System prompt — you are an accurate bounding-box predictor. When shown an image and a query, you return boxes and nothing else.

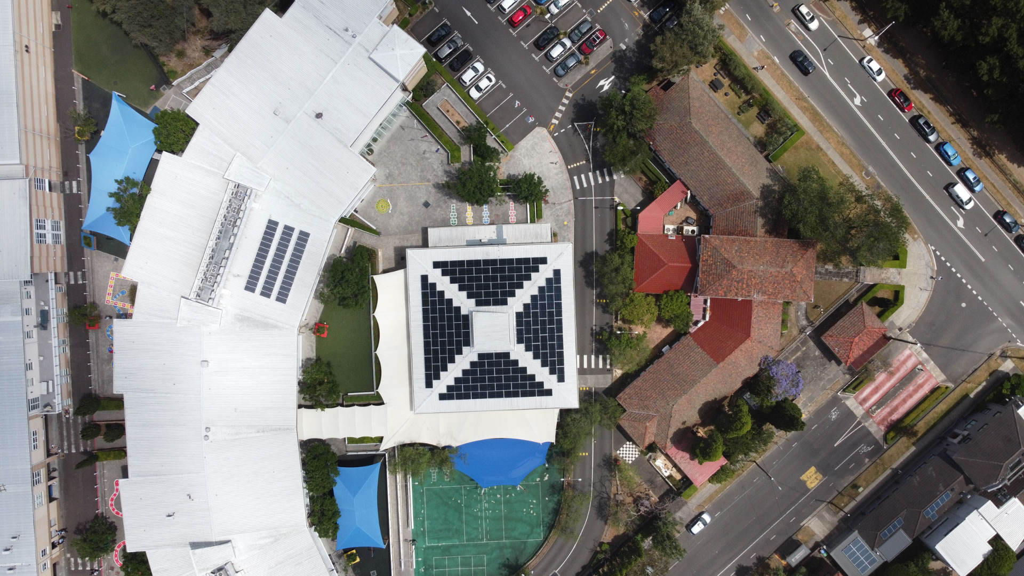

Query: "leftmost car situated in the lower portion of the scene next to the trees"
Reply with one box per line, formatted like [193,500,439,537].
[685,509,712,536]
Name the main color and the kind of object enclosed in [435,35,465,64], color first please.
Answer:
gray car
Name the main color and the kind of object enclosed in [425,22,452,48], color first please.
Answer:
black car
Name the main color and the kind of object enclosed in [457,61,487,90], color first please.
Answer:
white car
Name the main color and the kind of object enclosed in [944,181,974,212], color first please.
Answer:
white car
